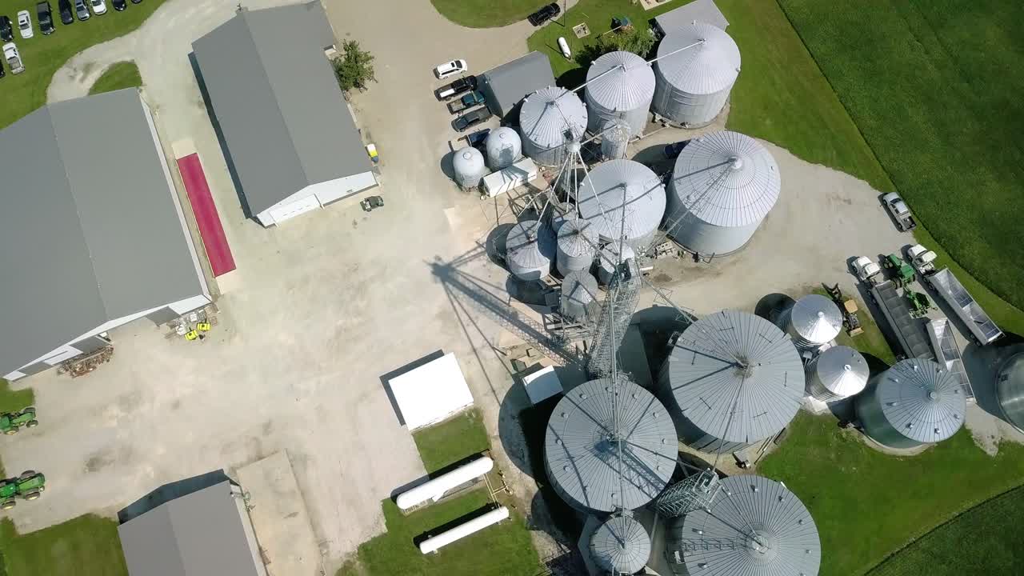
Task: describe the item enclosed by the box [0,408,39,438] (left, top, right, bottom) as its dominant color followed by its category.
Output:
green work vehicle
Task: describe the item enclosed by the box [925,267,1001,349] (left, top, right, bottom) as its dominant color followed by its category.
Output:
gray trailer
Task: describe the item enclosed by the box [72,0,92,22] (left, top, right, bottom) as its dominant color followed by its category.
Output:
gray car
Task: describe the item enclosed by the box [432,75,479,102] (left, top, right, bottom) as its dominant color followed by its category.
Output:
black truck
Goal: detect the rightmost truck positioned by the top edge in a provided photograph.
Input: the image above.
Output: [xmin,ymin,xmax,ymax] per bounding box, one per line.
[523,1,563,27]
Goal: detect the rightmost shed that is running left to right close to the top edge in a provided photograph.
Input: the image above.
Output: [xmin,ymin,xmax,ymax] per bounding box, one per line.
[656,0,727,40]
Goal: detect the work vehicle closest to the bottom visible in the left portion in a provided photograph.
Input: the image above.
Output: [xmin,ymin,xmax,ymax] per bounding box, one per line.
[0,469,48,508]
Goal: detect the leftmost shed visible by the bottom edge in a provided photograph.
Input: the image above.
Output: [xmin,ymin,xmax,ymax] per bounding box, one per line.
[117,480,266,576]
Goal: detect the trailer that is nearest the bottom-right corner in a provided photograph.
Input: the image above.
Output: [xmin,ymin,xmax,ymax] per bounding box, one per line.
[922,317,981,414]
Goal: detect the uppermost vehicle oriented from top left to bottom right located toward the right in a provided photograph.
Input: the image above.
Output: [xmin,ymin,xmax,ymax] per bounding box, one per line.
[879,190,921,236]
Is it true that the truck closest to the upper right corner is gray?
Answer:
Yes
